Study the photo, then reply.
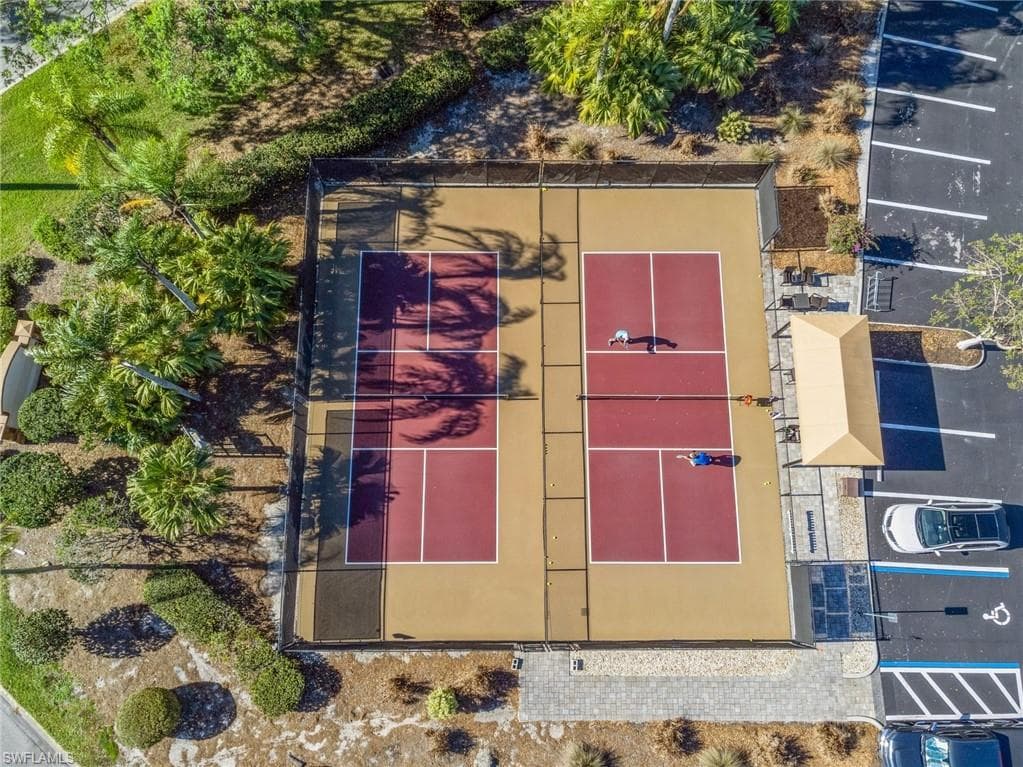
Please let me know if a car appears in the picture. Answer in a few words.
Yes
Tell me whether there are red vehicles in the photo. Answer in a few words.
No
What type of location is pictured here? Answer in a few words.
sports ground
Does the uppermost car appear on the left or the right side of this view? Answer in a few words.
right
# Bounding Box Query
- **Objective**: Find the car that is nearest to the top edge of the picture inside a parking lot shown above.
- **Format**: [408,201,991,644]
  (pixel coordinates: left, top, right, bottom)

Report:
[879,495,1009,556]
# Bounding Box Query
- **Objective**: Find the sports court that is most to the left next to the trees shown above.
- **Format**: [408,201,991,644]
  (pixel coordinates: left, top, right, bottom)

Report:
[297,186,545,641]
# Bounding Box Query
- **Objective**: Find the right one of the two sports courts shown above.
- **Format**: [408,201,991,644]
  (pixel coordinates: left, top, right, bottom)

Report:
[541,187,792,641]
